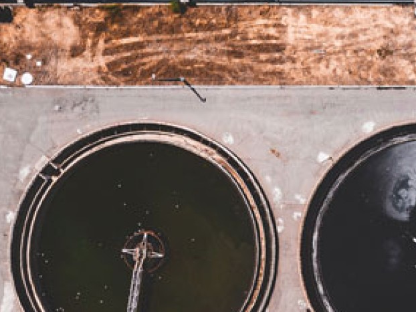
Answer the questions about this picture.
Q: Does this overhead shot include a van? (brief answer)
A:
No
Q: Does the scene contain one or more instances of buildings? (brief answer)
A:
No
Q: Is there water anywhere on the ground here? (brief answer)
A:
Yes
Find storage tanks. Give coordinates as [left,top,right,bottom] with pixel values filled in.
[10,122,275,312]
[299,122,416,312]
